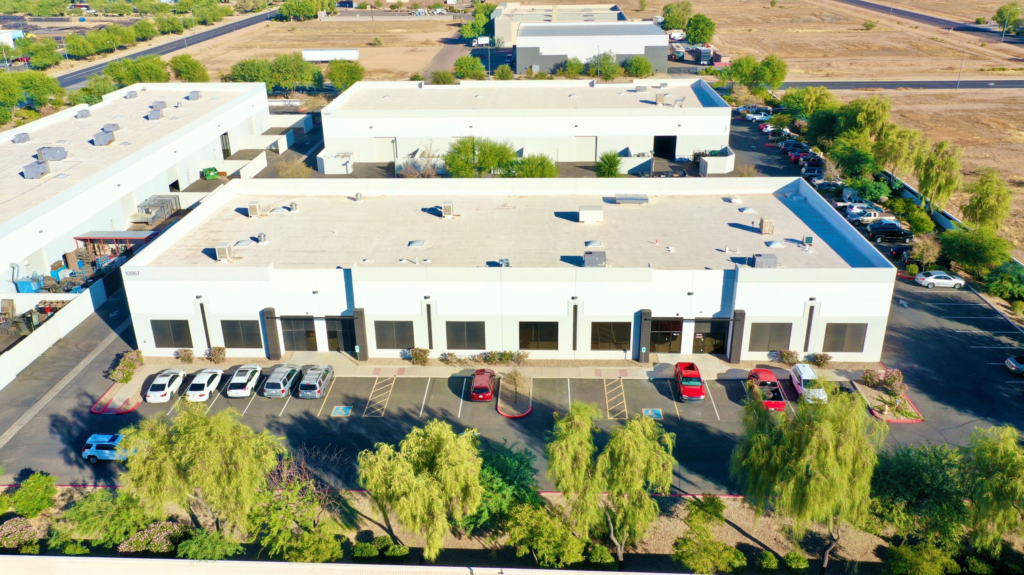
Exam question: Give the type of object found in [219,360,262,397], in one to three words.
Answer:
car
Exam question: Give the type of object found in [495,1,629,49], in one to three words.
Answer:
building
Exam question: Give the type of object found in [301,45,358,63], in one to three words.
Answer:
trailer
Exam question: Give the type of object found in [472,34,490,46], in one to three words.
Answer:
vehicle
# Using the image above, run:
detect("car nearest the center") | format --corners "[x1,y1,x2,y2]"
[468,361,499,398]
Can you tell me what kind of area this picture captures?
industrial area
